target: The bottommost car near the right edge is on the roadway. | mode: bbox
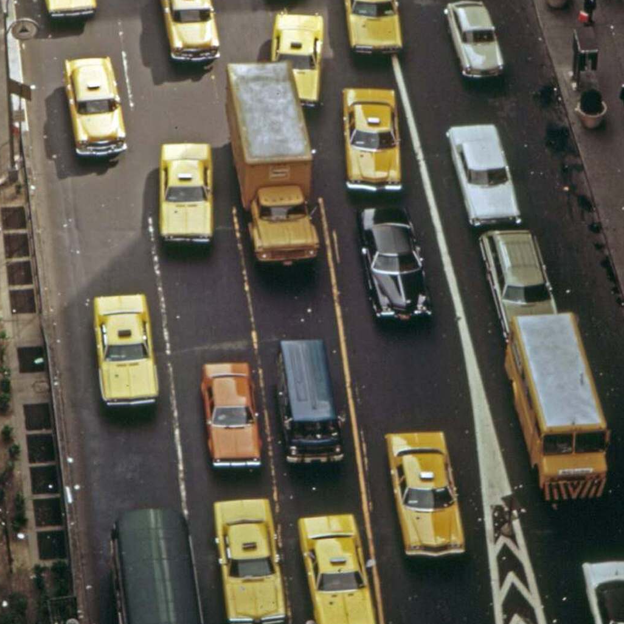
[583,561,624,624]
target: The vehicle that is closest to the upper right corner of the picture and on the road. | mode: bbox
[443,0,505,78]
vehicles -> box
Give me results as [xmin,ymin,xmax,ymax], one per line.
[199,361,264,467]
[343,91,401,194]
[271,14,322,105]
[447,123,521,225]
[358,209,429,323]
[276,335,348,466]
[506,314,609,510]
[583,561,624,624]
[384,429,465,556]
[92,294,159,406]
[443,0,505,78]
[211,495,287,624]
[118,513,204,624]
[346,0,401,53]
[157,142,214,241]
[47,0,97,18]
[478,238,554,357]
[162,0,220,61]
[63,59,127,157]
[296,510,375,624]
[227,61,318,269]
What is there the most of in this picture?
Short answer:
paved ground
